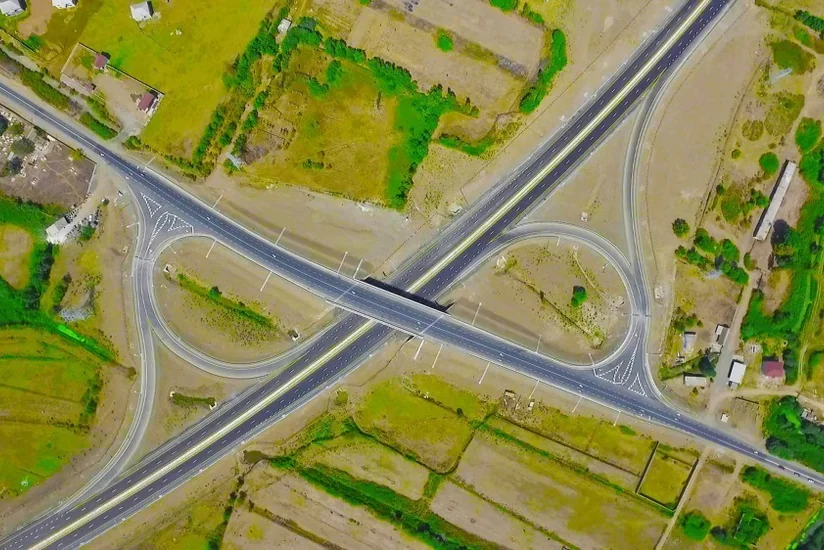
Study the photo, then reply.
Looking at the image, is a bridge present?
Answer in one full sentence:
Yes, the image includes a bridge.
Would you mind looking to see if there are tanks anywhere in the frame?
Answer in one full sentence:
No, I can see no tank in this picture.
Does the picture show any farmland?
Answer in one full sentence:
Yes, there's farmland in this view.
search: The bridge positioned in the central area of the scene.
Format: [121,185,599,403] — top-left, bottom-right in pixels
[326,279,450,339]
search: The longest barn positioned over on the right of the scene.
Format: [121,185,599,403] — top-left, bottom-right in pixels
[755,160,793,242]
